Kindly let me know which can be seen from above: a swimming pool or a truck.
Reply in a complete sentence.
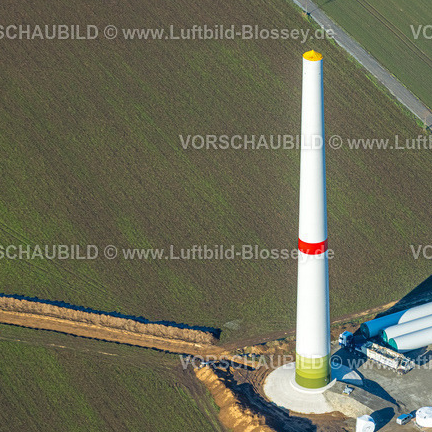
Of the two, only a truck appears.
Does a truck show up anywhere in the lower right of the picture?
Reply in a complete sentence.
Yes, a truck can be seen in the lower right of the picture.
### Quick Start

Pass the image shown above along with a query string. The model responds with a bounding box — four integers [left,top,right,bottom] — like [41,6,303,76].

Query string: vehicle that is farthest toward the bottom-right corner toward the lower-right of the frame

[394,411,415,426]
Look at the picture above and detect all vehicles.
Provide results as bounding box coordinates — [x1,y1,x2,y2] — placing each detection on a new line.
[337,331,415,372]
[394,411,415,426]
